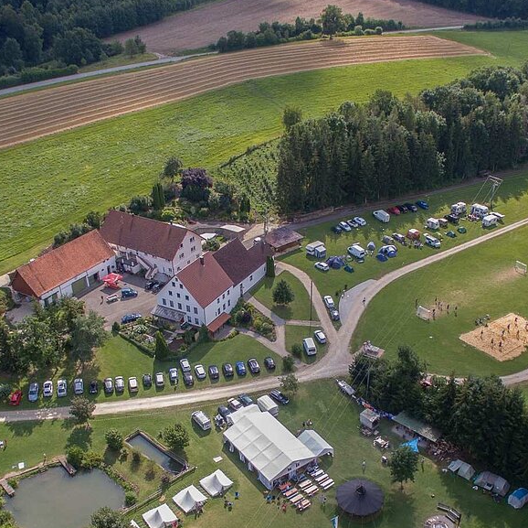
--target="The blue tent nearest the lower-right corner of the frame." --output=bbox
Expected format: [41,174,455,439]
[504,487,528,511]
